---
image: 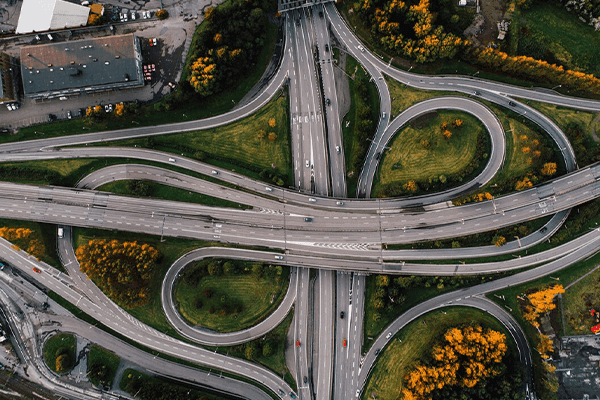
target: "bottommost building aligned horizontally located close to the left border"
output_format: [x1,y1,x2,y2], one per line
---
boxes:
[19,34,146,101]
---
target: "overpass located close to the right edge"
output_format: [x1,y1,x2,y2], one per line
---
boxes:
[543,169,595,212]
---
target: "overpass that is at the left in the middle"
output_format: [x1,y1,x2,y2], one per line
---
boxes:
[39,186,101,227]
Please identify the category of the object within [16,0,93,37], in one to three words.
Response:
building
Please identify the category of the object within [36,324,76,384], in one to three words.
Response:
roundabout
